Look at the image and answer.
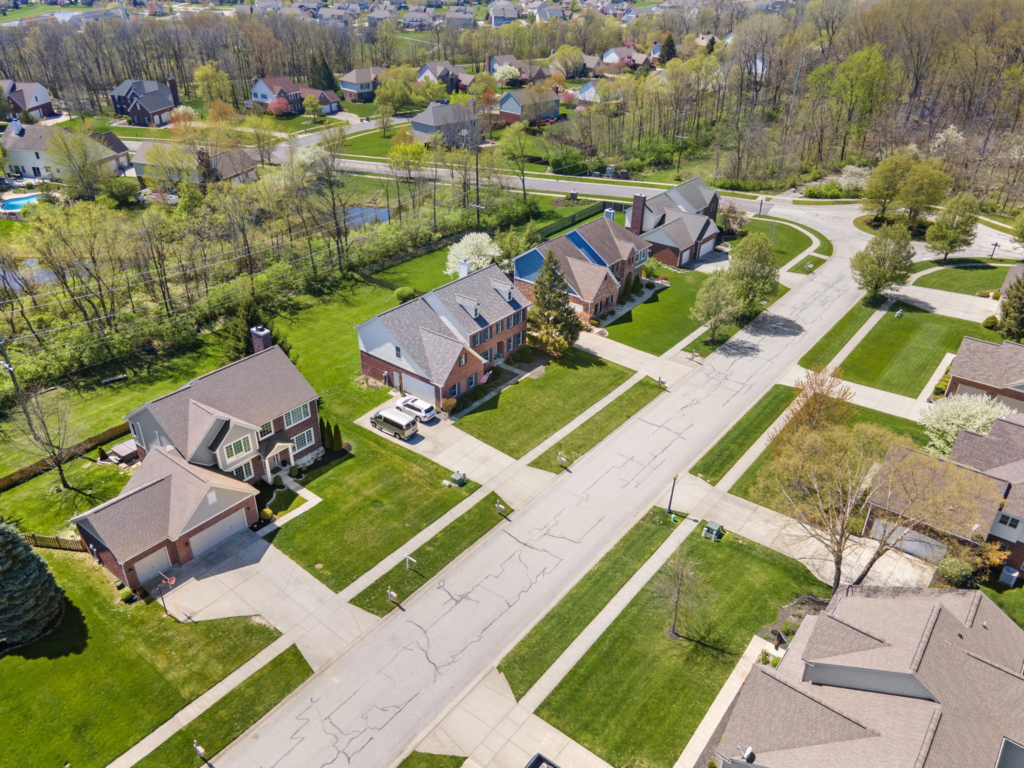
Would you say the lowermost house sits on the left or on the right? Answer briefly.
right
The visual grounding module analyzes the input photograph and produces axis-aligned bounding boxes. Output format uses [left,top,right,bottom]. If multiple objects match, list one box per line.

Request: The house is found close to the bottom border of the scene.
[709,577,1024,768]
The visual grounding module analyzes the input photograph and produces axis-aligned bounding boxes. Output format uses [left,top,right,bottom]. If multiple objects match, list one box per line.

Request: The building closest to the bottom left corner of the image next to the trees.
[75,329,325,591]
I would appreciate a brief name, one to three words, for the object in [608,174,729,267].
house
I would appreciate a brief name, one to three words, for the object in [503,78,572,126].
house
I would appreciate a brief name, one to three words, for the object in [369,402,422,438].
van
